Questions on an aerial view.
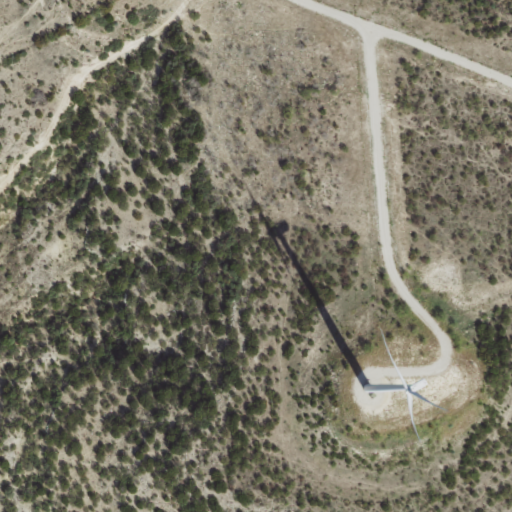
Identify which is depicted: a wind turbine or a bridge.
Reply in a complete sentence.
This aerial view contains a wind turbine.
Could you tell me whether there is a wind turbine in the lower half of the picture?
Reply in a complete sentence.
Yes, I can see a wind turbine in the lower half of the picture.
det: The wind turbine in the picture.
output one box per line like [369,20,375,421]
[362,327,449,436]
